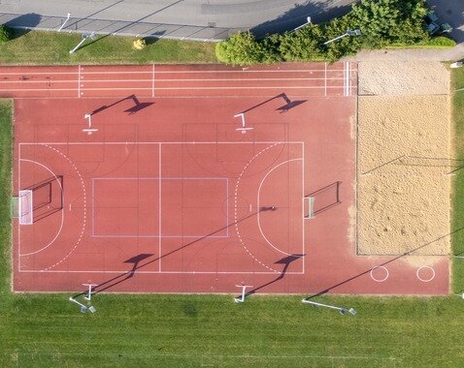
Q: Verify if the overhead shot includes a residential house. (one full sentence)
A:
No, I can see no residential house in this picture.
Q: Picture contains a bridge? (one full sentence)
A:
No, there appears to be no bridge in this shot.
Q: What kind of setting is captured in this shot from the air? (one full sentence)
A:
It's a sports ground.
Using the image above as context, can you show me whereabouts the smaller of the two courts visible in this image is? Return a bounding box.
[356,95,459,256]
